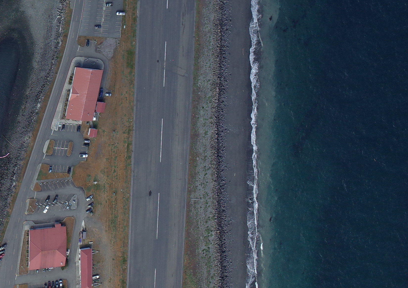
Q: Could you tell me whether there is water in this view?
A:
Yes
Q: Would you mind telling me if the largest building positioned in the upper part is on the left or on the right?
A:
left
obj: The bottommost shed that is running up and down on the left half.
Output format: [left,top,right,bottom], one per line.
[79,247,92,288]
